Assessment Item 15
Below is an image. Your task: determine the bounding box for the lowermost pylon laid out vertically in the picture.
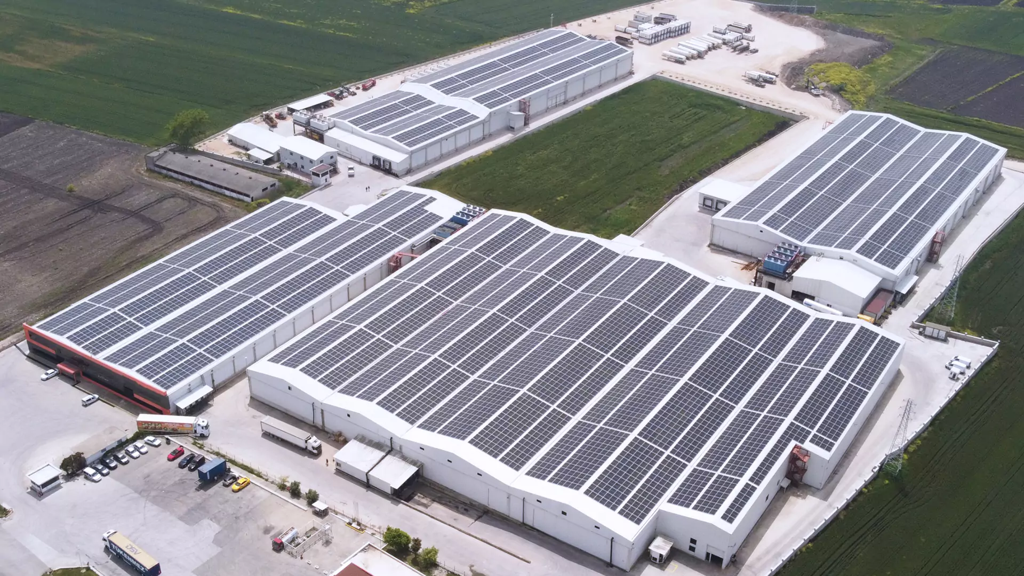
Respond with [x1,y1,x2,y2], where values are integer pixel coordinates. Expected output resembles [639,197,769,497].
[882,398,920,475]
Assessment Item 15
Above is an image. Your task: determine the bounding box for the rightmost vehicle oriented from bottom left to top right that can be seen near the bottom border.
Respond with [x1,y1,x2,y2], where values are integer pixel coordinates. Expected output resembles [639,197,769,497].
[269,515,301,553]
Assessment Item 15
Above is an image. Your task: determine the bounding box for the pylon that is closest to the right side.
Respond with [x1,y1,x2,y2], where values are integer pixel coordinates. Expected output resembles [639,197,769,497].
[936,256,967,321]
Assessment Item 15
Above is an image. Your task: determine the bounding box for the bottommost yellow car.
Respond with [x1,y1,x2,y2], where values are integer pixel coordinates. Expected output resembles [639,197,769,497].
[230,475,252,491]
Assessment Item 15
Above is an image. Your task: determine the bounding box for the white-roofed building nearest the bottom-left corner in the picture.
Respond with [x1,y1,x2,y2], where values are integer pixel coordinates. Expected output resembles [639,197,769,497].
[24,459,61,491]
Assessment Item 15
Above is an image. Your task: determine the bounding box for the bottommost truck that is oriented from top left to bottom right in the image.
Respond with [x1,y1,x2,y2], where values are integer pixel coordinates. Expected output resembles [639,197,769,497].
[97,528,163,576]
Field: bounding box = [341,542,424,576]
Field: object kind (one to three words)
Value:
building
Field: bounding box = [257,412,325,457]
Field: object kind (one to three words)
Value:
truck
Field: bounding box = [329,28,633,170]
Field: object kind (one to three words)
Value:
warehouse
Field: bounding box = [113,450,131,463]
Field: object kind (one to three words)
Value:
vehicle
